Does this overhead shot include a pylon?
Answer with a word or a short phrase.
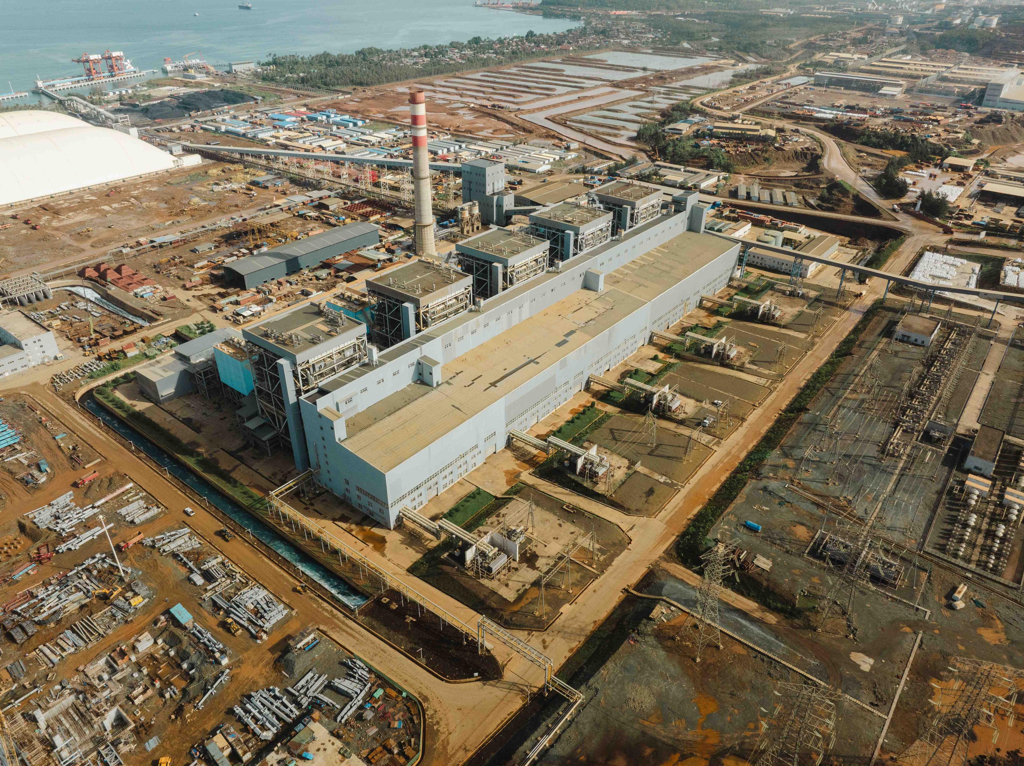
Yes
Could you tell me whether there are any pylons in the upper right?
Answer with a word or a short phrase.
No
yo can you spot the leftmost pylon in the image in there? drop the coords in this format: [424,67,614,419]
[679,526,727,662]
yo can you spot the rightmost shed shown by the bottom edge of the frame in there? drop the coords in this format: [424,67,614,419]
[288,726,316,758]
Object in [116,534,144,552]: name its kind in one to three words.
vehicle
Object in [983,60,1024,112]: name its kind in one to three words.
building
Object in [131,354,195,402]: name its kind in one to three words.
shed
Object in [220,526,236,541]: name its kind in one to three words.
work vehicle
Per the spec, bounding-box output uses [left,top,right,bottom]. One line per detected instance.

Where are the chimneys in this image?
[408,90,435,257]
